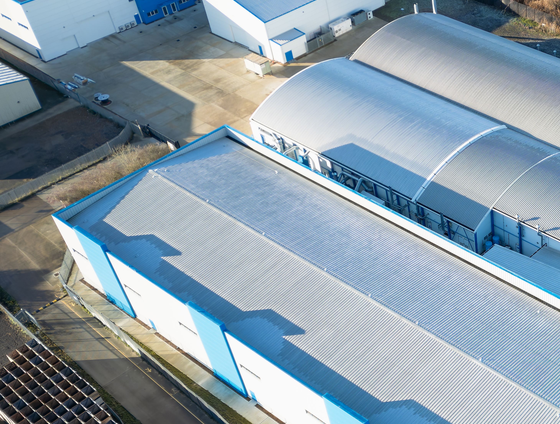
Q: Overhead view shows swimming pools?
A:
No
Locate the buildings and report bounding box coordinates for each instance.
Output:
[0,0,199,61]
[0,61,41,126]
[244,53,271,77]
[202,0,385,63]
[55,128,560,424]
[350,0,560,147]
